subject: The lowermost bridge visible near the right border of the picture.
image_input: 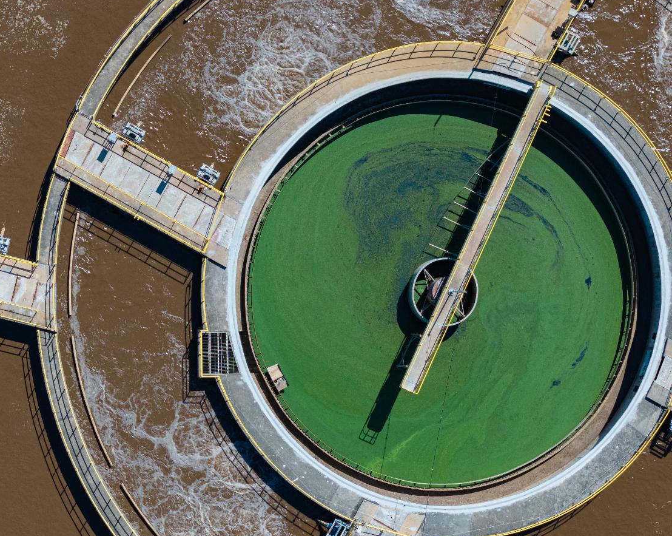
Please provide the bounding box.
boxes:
[645,340,672,413]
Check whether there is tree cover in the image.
No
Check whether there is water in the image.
Yes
